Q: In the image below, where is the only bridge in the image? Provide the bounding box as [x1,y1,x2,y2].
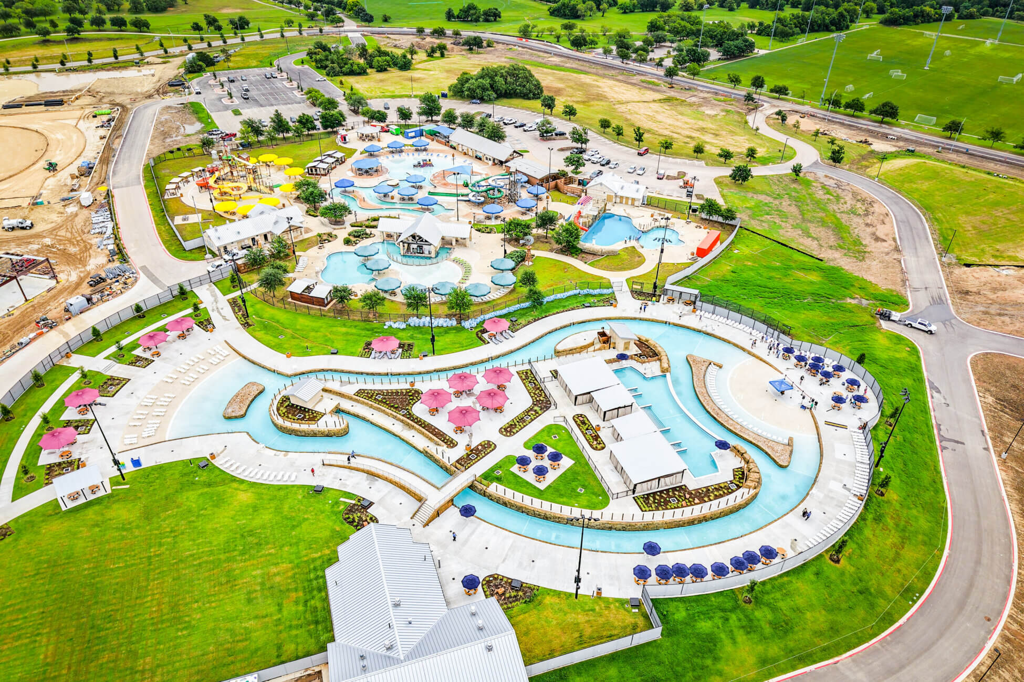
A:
[322,451,475,527]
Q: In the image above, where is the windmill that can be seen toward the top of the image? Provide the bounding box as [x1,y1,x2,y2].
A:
[521,239,534,263]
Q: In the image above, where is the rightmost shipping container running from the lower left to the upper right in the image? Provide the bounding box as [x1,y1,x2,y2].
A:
[689,230,723,257]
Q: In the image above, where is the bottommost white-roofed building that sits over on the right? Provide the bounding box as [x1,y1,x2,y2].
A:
[608,432,688,498]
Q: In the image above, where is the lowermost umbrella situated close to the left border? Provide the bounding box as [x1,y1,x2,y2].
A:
[39,428,78,454]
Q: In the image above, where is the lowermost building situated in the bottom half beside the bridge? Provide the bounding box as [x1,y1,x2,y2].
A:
[316,522,528,682]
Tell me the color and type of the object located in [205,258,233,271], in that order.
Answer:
white vehicle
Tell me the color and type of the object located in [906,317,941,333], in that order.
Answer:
white vehicle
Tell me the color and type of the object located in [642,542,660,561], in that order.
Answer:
blue umbrella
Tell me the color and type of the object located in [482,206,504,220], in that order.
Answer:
blue umbrella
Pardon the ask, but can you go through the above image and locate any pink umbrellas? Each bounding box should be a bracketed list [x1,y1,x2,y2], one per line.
[480,319,508,337]
[166,318,195,339]
[371,337,400,358]
[39,428,78,454]
[66,389,101,413]
[476,389,508,413]
[420,390,452,412]
[447,407,481,432]
[448,372,479,395]
[482,368,513,390]
[139,333,169,353]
